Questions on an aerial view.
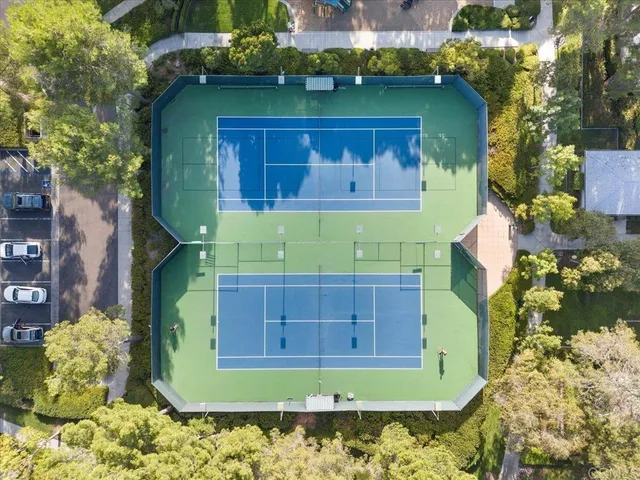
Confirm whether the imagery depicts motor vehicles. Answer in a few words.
Yes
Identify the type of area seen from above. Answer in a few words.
sports ground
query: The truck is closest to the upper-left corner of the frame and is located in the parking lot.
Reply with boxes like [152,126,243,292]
[4,189,51,211]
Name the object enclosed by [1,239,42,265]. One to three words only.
car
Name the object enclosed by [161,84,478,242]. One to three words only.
tennis court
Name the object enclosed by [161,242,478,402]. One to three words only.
tennis court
